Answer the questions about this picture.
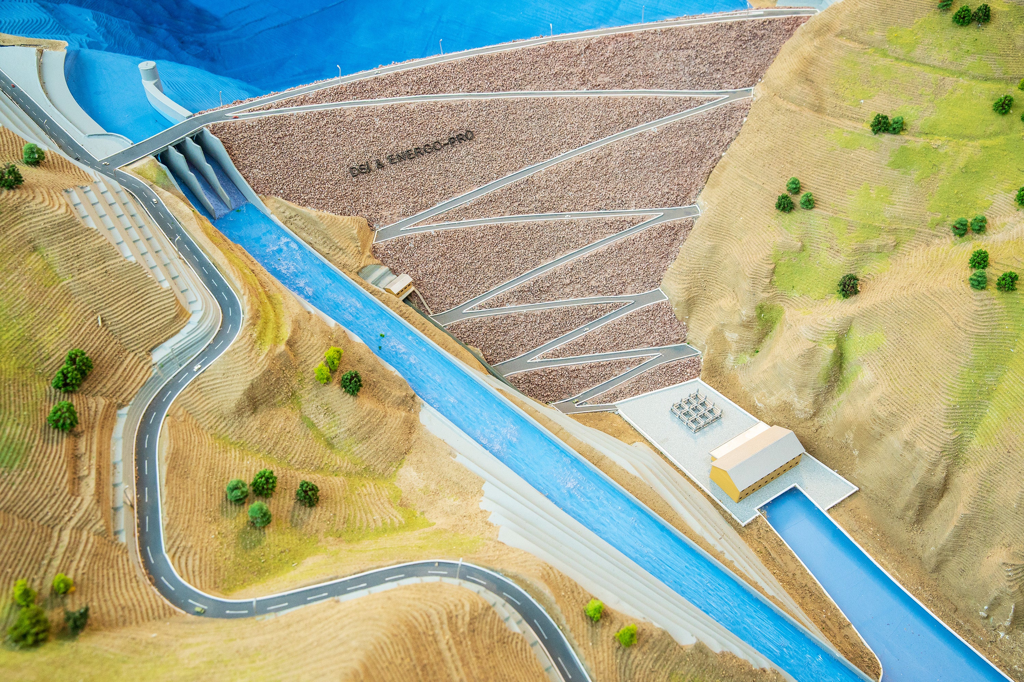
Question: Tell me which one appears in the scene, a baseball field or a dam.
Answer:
dam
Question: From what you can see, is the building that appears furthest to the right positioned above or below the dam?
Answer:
below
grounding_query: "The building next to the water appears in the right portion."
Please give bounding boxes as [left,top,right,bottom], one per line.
[708,420,807,503]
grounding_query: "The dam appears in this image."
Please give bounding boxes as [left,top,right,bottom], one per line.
[182,3,811,408]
